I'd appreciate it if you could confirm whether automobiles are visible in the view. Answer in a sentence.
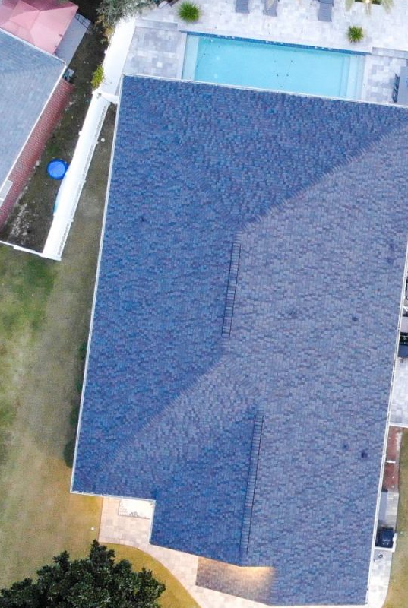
No, there isn't any automobile down there.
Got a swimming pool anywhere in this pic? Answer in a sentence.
Yes, looking at the shot, I can spot a swimming pool.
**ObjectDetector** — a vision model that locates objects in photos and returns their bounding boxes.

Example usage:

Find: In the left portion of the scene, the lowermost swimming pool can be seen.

[45,158,68,180]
